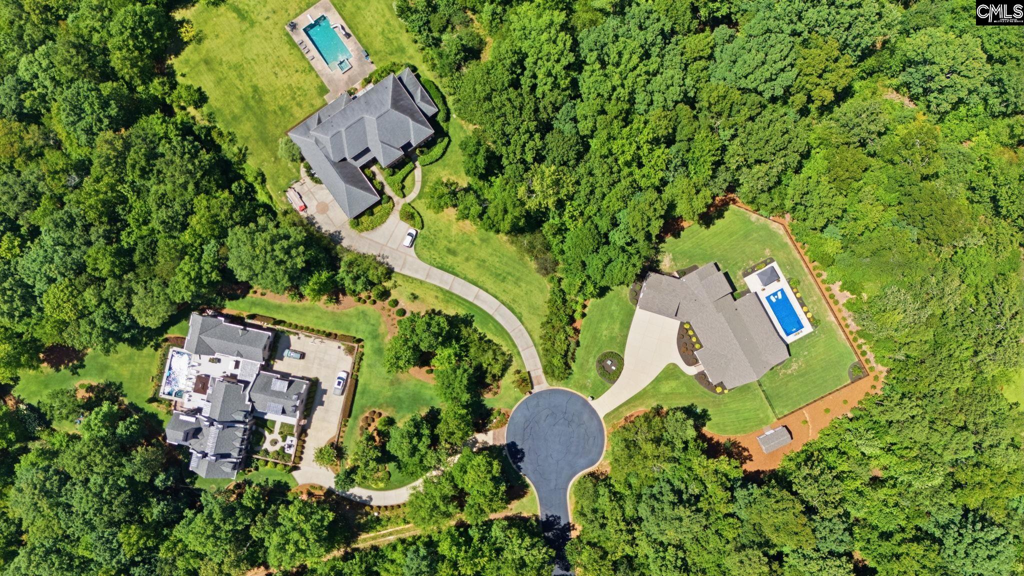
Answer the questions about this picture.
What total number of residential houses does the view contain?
3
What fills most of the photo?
trees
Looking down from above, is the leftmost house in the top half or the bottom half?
bottom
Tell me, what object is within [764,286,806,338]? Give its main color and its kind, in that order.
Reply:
blue swimming pool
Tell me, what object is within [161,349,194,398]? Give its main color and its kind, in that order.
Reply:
white swimming pool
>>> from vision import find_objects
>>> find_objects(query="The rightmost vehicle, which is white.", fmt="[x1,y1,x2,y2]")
[402,228,417,248]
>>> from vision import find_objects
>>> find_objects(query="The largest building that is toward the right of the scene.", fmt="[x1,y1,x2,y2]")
[636,262,790,389]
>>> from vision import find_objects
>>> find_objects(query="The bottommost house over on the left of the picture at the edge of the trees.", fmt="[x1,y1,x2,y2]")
[166,313,314,479]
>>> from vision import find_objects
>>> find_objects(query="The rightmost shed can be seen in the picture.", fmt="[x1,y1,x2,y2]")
[755,424,793,453]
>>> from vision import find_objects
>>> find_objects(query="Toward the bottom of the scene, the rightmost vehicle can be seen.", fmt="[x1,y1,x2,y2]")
[332,371,347,397]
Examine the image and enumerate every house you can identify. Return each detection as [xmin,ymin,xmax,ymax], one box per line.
[636,262,790,389]
[166,313,314,479]
[288,67,438,219]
